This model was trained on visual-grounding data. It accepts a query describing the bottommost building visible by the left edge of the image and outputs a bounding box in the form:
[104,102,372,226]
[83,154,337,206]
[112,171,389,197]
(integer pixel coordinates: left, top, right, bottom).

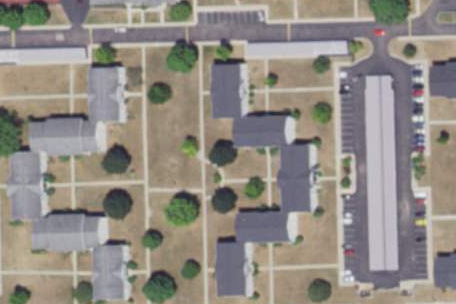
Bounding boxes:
[6,66,136,300]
